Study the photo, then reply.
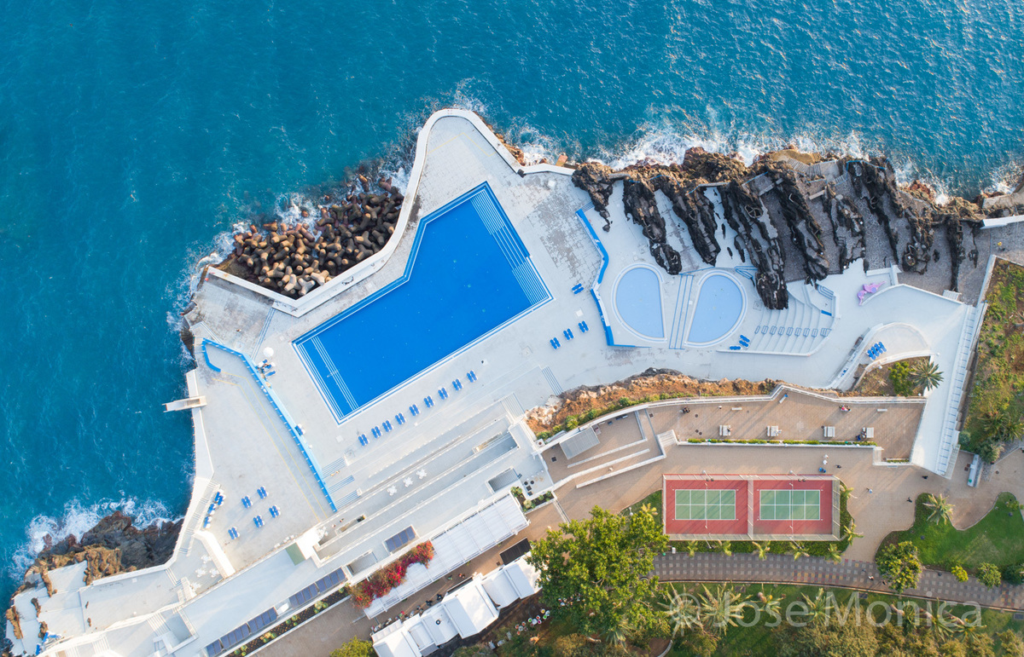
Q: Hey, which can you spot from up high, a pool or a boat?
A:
pool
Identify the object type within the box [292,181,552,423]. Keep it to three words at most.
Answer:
swimming pool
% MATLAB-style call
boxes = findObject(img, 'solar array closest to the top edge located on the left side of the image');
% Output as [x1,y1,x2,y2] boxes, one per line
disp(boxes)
[386,528,415,552]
